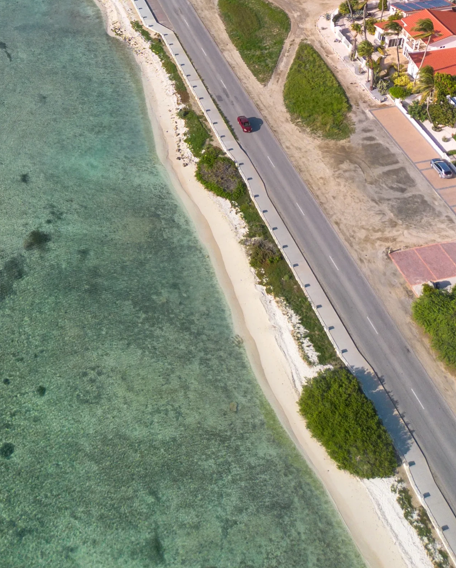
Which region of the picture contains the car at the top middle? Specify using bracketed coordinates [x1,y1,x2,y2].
[234,119,253,138]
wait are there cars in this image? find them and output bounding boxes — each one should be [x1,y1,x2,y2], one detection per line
[234,119,253,138]
[427,156,456,178]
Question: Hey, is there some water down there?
Yes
